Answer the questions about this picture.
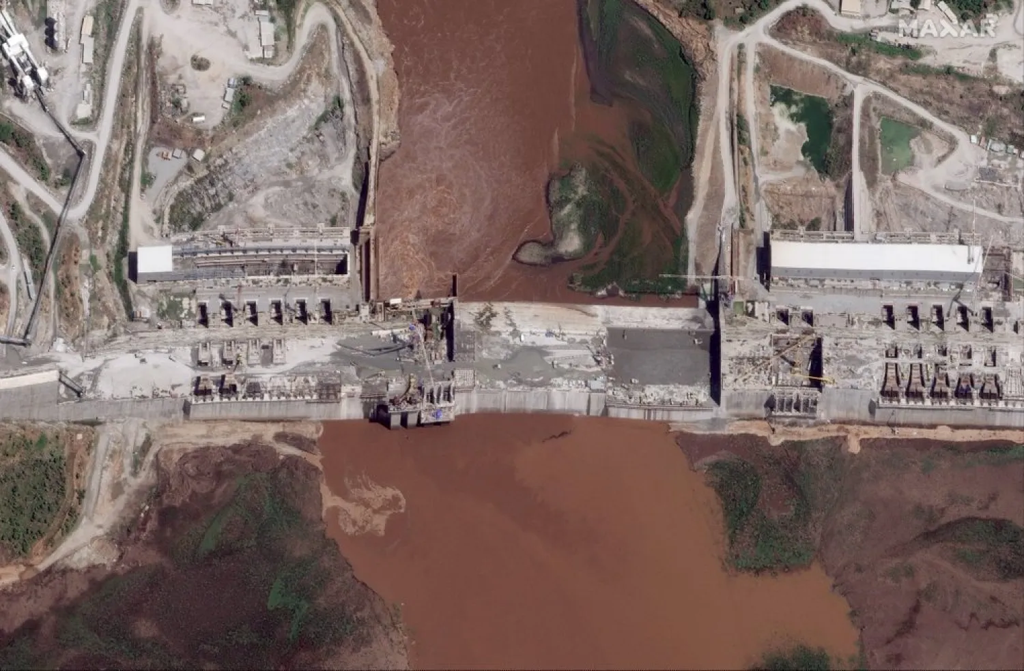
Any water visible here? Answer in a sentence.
Yes, there is water in the image.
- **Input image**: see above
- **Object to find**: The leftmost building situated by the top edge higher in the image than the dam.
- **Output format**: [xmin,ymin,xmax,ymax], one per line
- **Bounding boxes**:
[0,2,49,97]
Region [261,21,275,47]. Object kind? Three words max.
building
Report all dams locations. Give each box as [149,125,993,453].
[0,300,1024,426]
